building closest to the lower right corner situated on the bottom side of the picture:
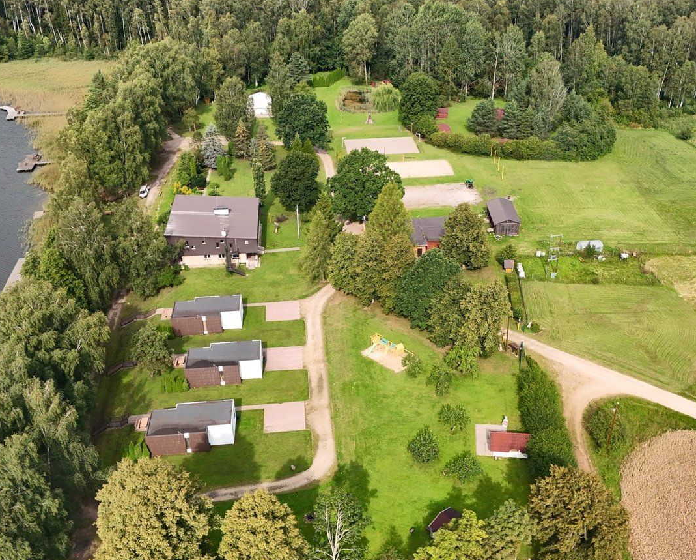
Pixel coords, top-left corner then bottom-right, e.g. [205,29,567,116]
[488,422,534,459]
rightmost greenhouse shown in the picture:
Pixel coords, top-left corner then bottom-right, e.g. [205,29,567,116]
[572,235,603,251]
